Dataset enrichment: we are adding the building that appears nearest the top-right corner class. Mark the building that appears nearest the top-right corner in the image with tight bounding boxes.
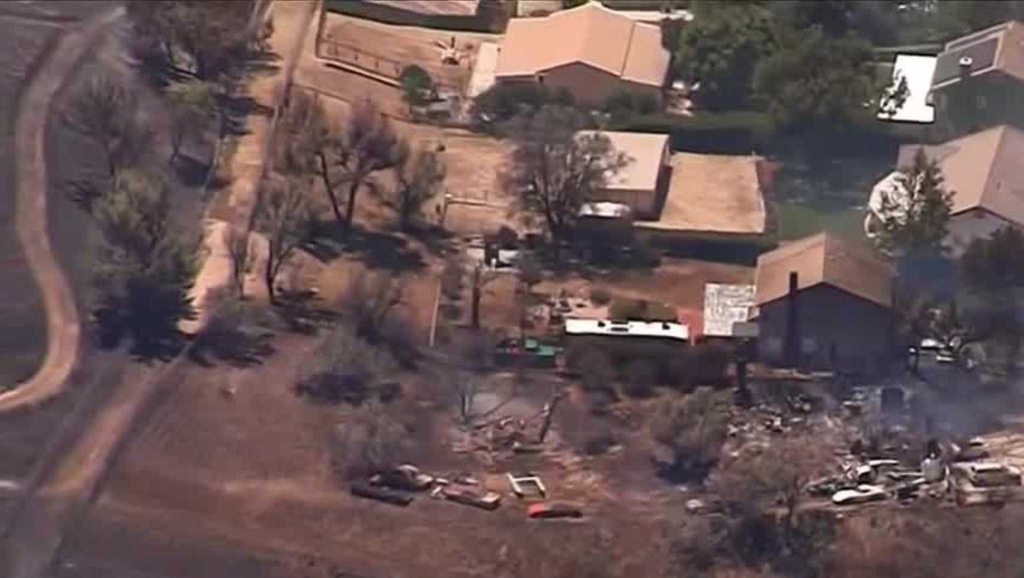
[927,18,1024,135]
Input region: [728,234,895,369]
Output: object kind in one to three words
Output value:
house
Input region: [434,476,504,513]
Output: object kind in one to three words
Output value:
vehicle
